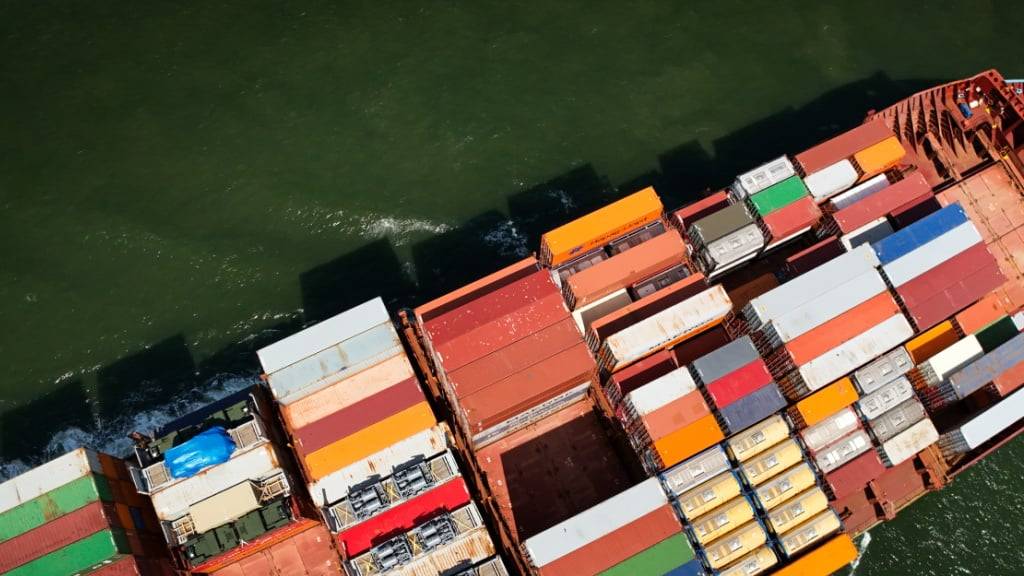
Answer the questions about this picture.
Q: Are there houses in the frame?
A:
No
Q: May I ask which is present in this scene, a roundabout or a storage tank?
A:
storage tank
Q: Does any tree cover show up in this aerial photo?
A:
No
